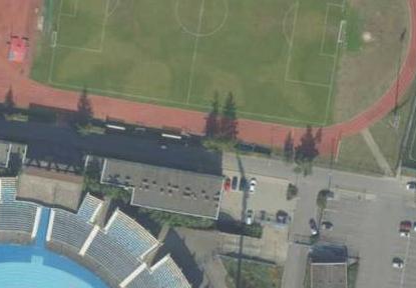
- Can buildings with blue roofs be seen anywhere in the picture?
No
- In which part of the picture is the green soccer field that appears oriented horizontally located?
top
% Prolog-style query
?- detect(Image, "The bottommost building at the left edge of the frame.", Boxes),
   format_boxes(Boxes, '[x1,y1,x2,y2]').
[16,160,86,215]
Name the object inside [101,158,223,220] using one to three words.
building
